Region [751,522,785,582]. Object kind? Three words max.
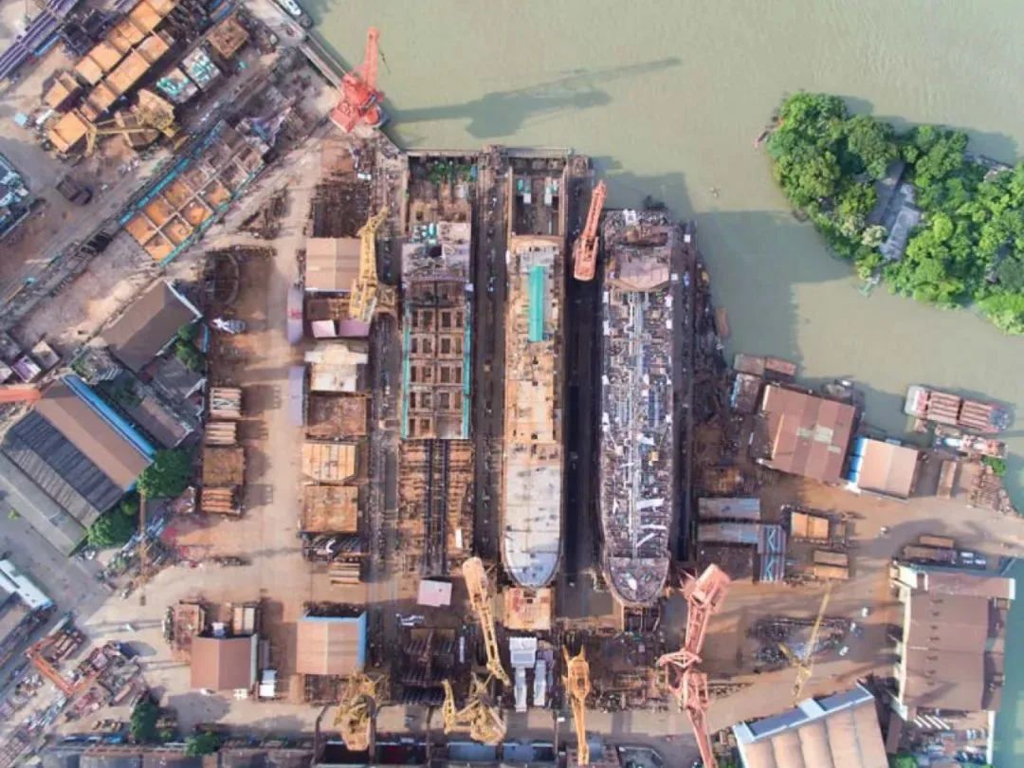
shed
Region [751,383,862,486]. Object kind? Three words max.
shed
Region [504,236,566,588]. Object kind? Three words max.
ship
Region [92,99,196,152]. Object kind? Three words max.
crane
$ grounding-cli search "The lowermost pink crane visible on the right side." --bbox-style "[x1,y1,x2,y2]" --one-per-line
[662,654,714,768]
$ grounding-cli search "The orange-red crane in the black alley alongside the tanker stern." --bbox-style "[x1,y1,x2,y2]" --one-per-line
[567,181,601,282]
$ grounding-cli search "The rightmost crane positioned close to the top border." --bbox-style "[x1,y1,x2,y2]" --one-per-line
[329,26,394,148]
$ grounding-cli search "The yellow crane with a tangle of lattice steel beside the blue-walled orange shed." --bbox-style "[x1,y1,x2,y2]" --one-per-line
[342,642,383,751]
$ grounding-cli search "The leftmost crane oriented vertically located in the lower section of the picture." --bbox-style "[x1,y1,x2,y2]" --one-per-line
[125,506,155,608]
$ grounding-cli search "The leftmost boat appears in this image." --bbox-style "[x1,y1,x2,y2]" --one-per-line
[213,320,243,332]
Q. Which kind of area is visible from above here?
port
